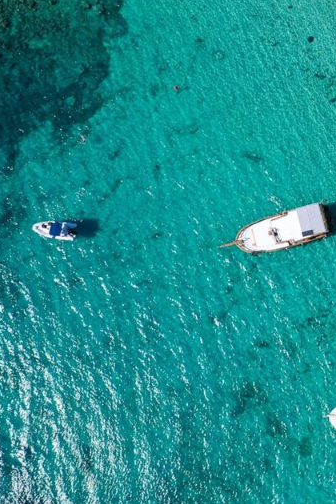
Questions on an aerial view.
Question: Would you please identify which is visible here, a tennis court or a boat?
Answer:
boat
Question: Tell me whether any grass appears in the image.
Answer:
No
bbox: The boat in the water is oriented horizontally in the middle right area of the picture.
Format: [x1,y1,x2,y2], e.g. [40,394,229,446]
[220,200,336,251]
